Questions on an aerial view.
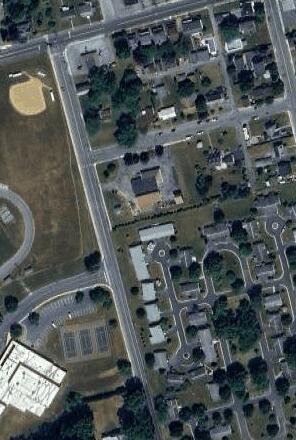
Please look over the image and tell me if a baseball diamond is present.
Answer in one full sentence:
Yes, there's a baseball diamond here.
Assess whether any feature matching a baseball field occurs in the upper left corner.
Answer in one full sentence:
Yes, you'll find a baseball field in the upper left corner.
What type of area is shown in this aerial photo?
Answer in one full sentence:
It's a residential area.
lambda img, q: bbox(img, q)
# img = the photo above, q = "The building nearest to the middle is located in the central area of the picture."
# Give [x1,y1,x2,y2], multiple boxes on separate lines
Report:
[138,223,174,241]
